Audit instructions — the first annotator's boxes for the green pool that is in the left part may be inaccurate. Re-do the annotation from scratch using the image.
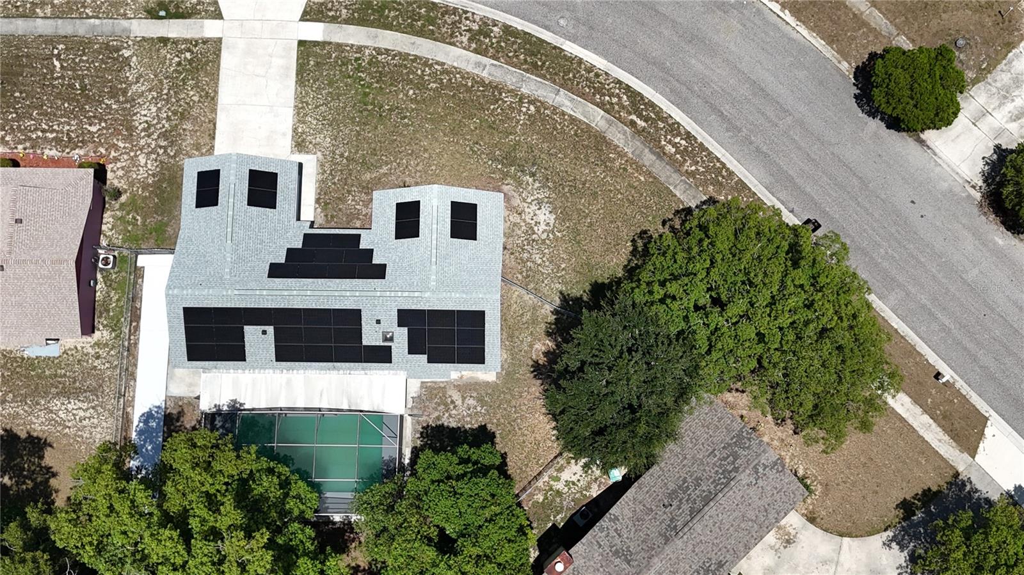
[250,412,383,493]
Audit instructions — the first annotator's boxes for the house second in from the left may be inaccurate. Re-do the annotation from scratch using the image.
[162,155,503,380]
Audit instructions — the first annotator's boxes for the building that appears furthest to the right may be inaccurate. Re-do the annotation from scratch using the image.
[543,400,810,575]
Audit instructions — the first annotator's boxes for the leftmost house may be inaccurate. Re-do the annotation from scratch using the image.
[0,166,106,348]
